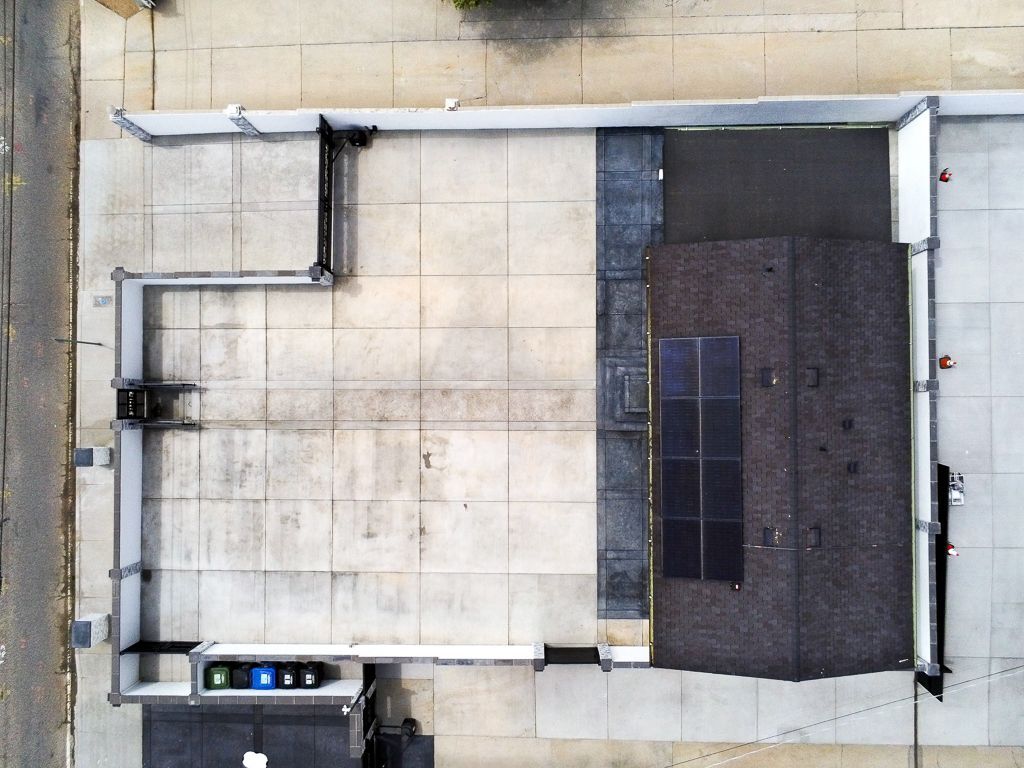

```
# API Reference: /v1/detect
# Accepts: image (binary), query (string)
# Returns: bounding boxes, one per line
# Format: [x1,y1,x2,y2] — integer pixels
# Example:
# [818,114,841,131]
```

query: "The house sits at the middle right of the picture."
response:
[648,236,915,683]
